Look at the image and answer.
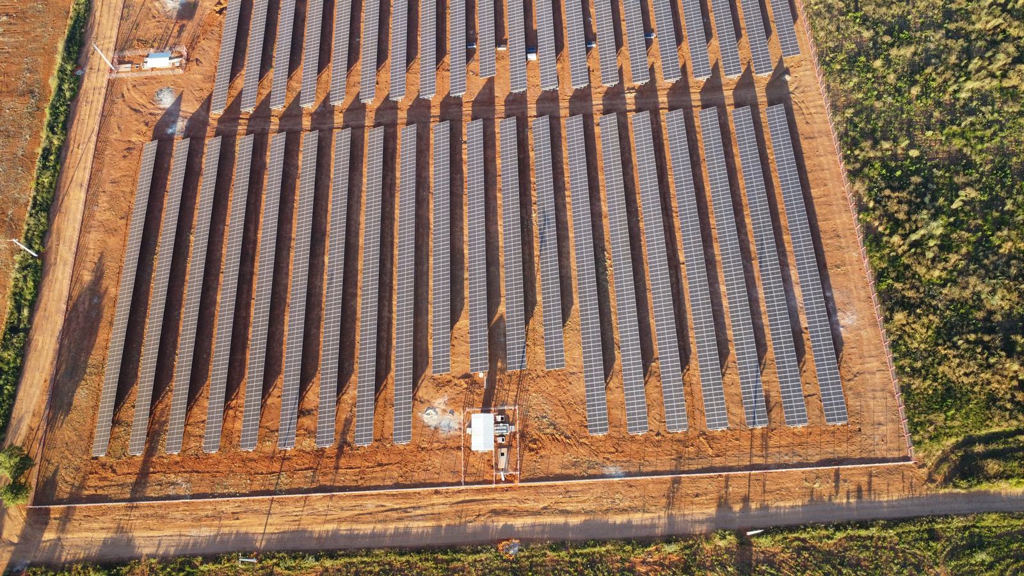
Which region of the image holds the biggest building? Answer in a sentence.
The biggest building is in the bottom part of the image.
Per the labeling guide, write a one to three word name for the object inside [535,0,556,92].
solar array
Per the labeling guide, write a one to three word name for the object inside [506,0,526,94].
solar array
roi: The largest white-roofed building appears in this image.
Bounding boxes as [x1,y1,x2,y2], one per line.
[472,414,494,452]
